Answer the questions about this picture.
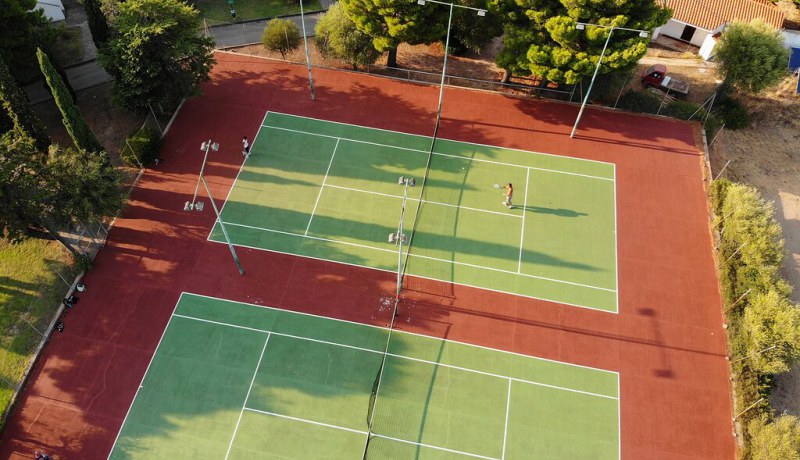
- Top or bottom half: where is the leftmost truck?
top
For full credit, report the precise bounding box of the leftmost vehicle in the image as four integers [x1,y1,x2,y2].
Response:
[641,63,697,100]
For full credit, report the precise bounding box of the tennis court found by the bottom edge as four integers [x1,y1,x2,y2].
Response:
[105,291,622,460]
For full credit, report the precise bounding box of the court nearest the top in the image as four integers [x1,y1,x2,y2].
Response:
[208,112,619,312]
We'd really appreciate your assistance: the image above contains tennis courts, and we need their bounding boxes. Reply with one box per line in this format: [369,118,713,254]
[105,291,622,460]
[208,112,619,312]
